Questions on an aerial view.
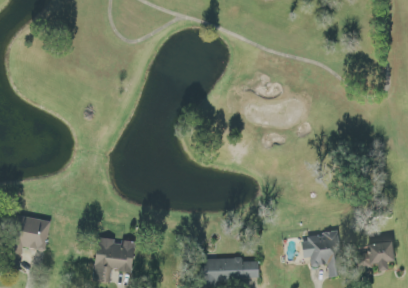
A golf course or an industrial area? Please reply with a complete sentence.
The picture captures a golf course.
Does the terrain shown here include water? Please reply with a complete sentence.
Yes, water shows up in the scene.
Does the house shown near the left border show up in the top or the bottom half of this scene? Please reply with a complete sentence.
The bottom half of the photo is where the house shown near the left border is.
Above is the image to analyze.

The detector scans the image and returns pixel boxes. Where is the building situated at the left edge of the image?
[14,216,50,254]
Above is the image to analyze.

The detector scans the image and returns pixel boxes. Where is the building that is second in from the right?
[302,232,338,278]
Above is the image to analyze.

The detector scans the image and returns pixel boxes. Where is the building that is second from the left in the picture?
[95,237,135,283]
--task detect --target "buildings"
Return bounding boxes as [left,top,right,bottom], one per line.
[95,237,135,283]
[14,216,50,254]
[358,240,396,272]
[205,258,258,282]
[302,232,338,278]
